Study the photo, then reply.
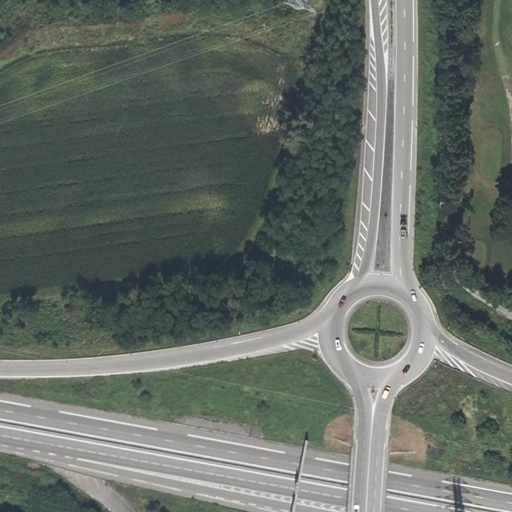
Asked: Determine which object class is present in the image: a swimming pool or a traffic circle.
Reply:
traffic circle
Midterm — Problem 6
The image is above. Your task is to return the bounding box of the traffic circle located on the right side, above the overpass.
[317,271,438,392]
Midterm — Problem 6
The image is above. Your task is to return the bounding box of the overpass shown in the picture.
[348,444,390,512]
